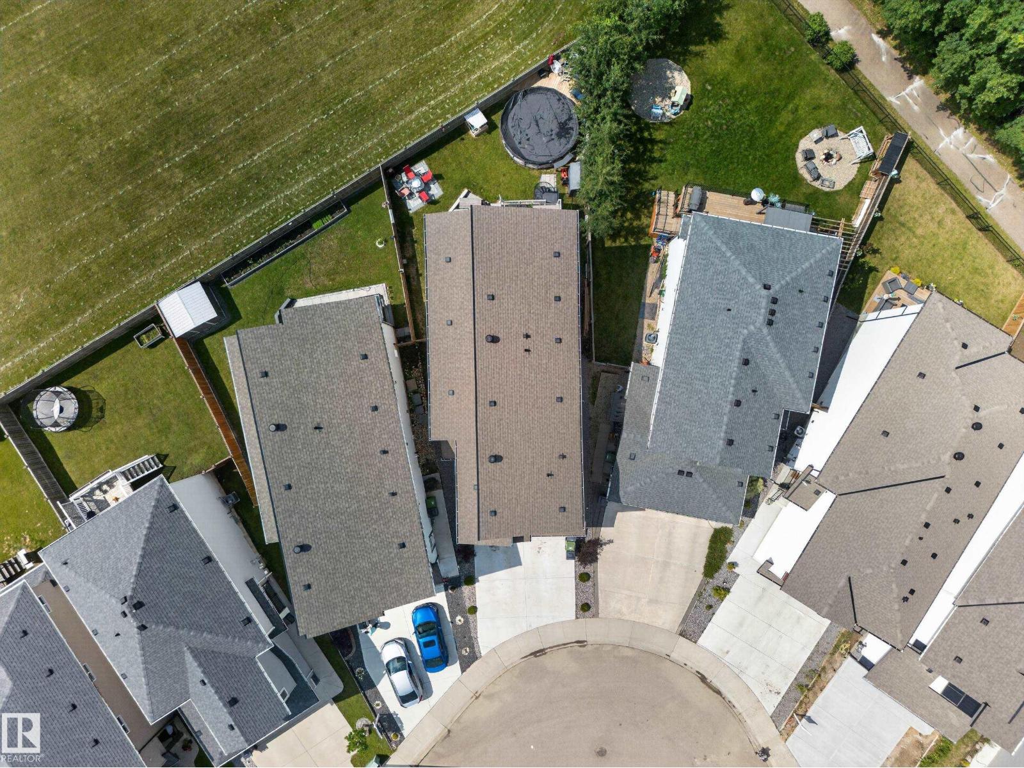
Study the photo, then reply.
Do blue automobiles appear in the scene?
Yes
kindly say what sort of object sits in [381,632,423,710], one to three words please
car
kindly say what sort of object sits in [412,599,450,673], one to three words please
car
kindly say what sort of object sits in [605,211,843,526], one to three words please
house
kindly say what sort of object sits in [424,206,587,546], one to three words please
house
